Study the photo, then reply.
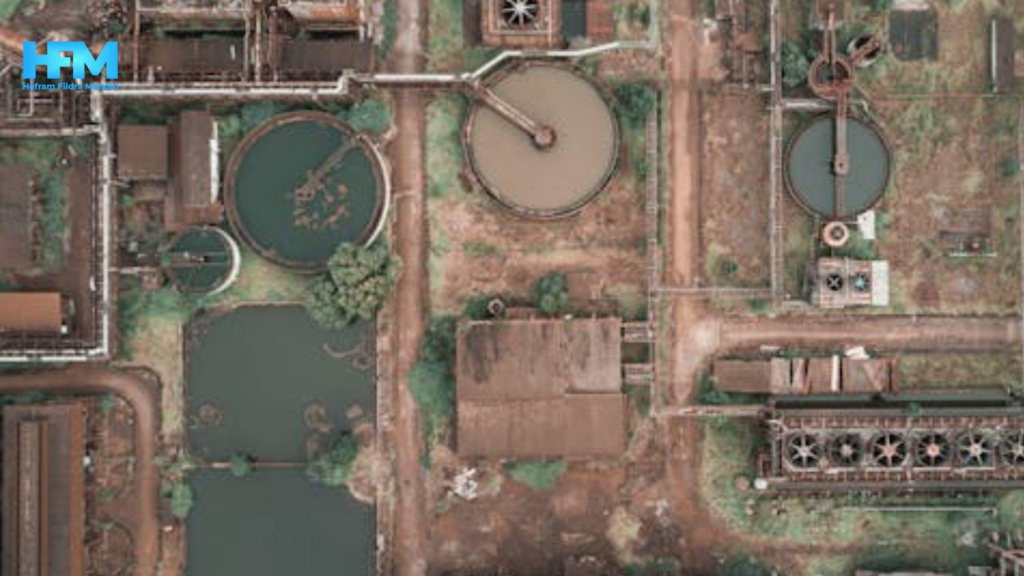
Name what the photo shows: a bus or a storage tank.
storage tank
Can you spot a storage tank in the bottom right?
No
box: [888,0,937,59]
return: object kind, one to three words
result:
shed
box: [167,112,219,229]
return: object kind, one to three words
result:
shed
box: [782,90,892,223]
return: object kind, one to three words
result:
storage tank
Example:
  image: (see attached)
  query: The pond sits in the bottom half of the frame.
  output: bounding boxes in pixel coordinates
[182,304,378,576]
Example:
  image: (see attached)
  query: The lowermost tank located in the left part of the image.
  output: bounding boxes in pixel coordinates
[169,226,244,294]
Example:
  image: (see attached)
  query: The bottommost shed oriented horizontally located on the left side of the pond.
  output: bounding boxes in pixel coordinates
[0,293,68,326]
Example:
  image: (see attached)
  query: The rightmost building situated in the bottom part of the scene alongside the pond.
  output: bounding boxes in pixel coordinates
[456,319,627,455]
